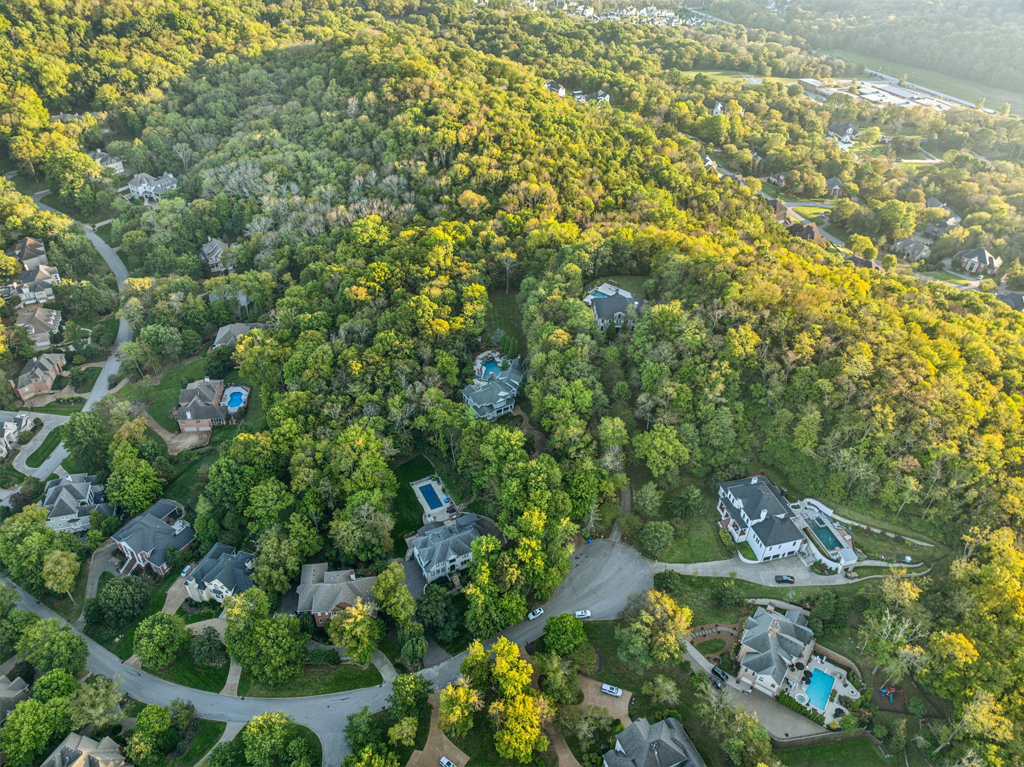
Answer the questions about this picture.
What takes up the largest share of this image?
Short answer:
trees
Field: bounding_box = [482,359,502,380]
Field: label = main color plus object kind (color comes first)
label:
blue swimming pool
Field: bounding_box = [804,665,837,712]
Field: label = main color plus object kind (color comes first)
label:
blue swimming pool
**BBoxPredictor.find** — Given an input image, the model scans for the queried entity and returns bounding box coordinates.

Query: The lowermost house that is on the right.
[601,715,709,767]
